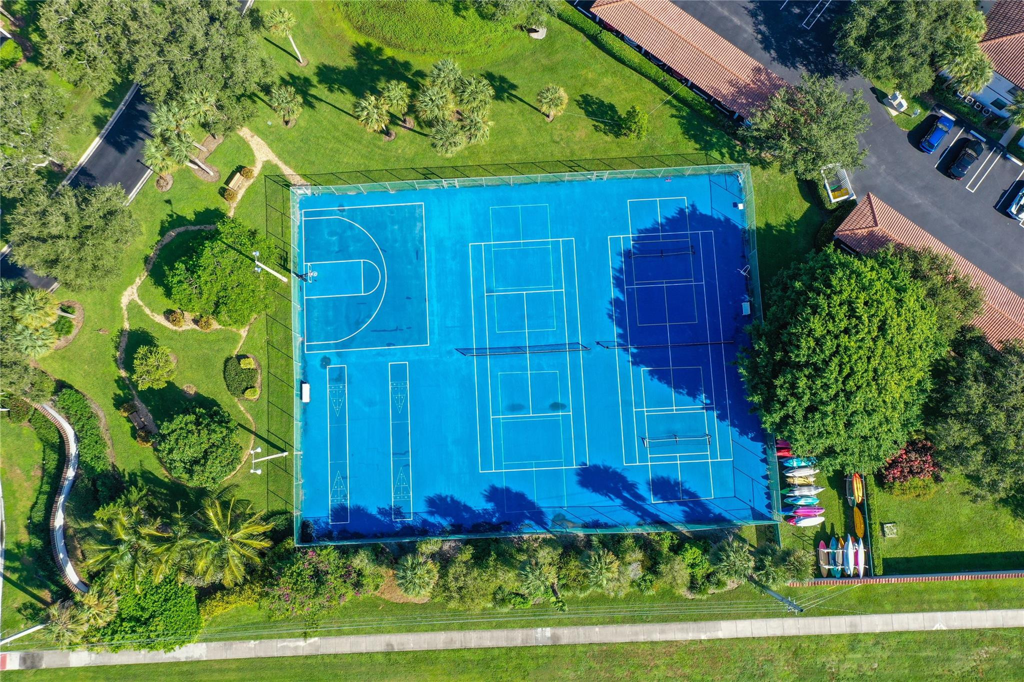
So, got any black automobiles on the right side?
Yes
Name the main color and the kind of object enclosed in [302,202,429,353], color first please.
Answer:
blue basketball court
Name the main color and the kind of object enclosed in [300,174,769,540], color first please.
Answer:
blue sports court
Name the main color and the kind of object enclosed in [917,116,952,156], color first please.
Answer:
blue car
